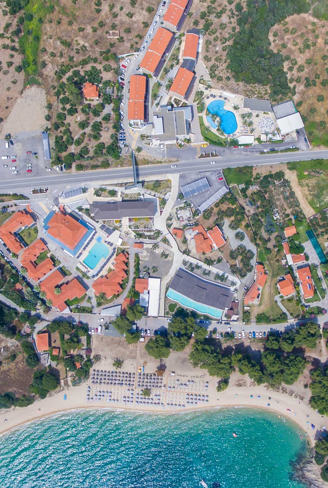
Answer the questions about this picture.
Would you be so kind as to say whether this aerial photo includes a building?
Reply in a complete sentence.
Yes, a building appears in the view.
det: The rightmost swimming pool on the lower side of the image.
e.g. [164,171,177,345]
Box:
[168,288,222,317]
